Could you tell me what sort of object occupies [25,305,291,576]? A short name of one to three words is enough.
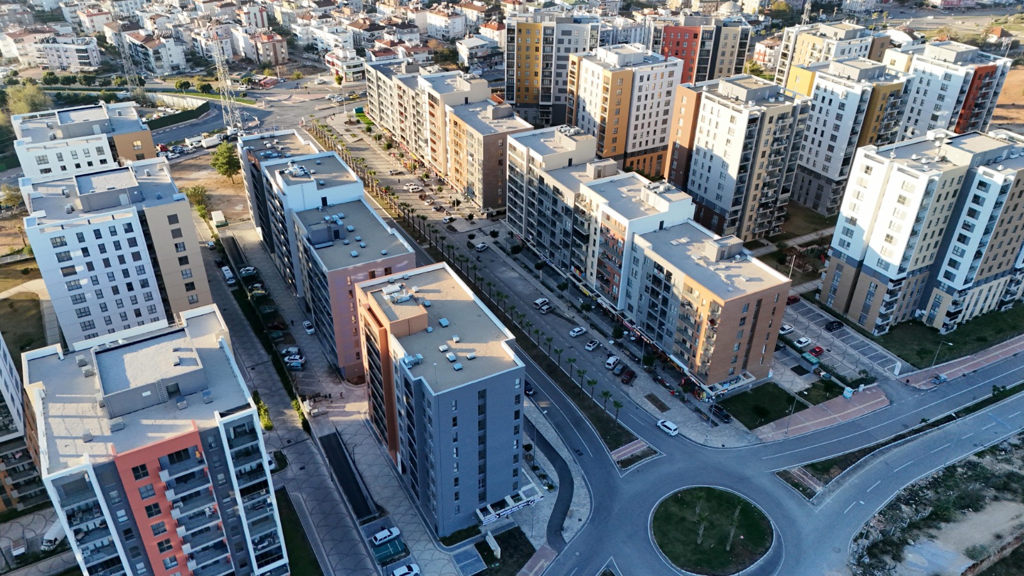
building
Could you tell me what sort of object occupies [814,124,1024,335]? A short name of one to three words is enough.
building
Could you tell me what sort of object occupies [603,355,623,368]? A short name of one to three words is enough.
vehicle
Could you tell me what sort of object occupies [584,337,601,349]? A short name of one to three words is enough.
vehicle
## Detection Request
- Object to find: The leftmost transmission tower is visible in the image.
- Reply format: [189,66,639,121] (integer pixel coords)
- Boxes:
[110,19,144,96]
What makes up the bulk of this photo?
buildings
